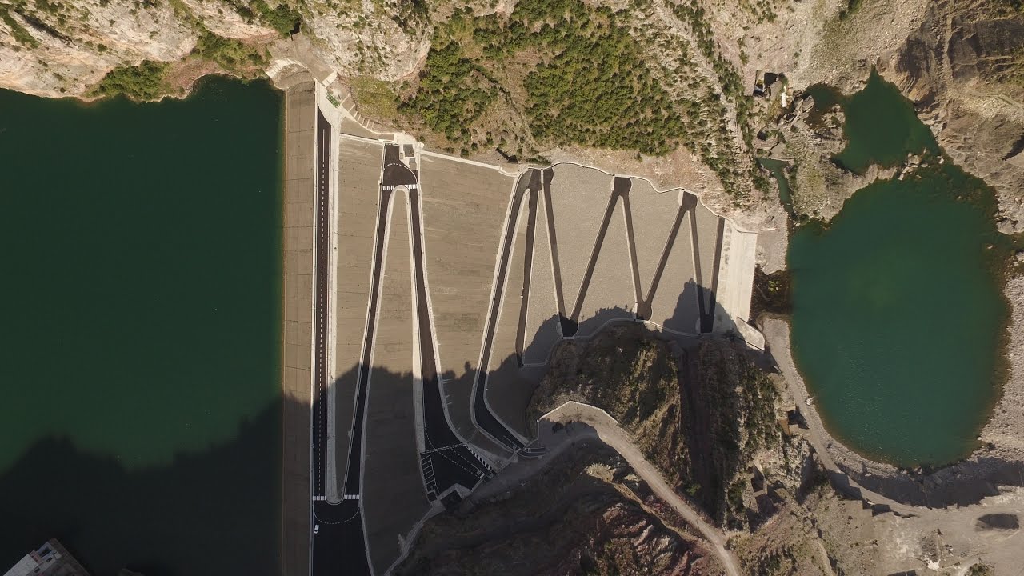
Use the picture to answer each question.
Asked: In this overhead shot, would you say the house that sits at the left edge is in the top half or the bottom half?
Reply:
bottom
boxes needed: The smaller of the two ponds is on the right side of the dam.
[794,81,1000,460]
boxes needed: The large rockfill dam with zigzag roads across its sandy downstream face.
[272,78,765,576]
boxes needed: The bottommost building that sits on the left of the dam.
[1,534,101,576]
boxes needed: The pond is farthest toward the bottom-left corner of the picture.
[0,77,283,576]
